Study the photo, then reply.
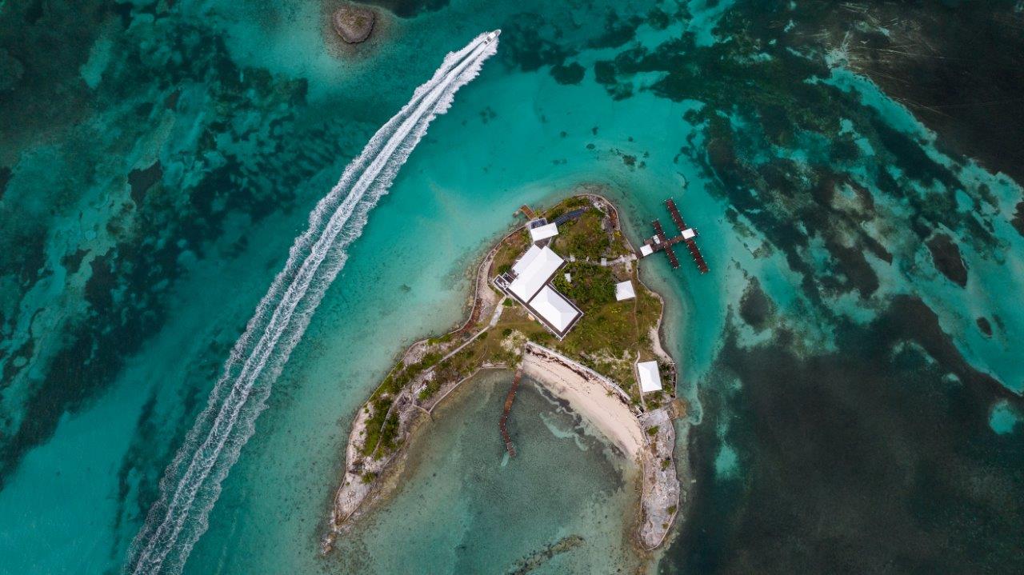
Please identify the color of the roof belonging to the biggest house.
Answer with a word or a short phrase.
white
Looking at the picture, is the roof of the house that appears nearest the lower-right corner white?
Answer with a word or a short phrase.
Yes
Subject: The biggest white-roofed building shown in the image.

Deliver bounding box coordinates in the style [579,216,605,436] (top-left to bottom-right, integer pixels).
[493,237,584,341]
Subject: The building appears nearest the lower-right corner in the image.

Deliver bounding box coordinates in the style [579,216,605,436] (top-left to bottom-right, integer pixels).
[637,361,662,392]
